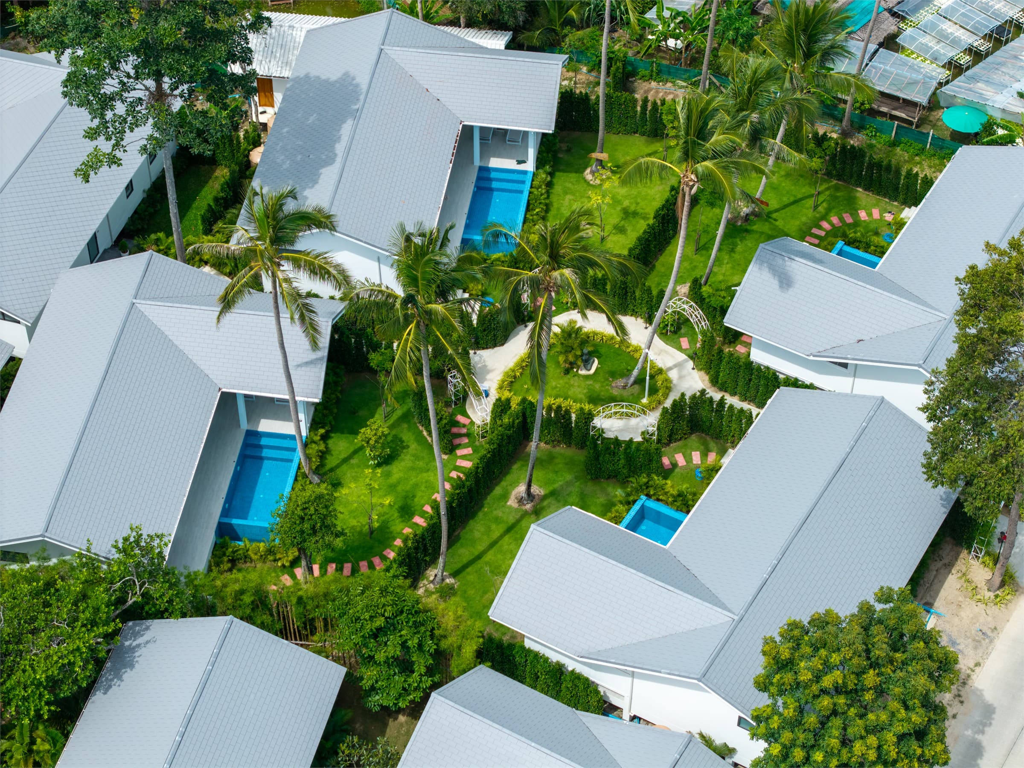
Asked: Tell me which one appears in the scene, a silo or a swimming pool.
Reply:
swimming pool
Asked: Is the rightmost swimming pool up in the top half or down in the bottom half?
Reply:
top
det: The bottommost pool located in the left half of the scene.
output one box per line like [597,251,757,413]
[218,437,298,528]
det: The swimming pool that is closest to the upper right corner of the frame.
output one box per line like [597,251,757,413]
[837,245,880,267]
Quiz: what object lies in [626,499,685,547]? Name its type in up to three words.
swimming pool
